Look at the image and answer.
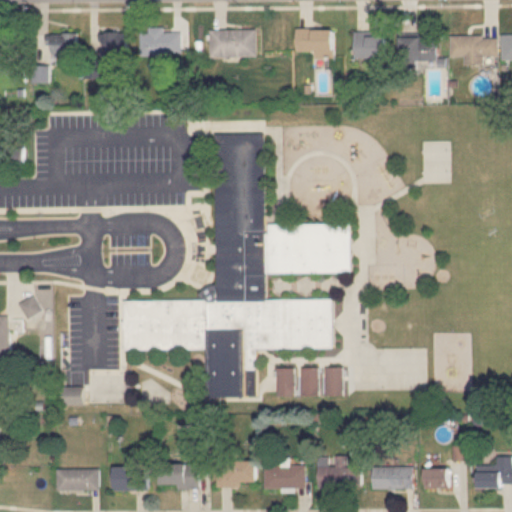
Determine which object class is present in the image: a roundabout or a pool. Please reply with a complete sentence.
There is a pool in the scene.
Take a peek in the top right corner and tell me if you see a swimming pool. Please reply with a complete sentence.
Yes, there is a swimming pool in the top right corner.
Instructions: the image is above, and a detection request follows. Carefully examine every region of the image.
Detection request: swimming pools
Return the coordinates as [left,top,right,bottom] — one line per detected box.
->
[426,68,447,104]
[315,70,332,97]
[471,74,493,96]
[434,424,454,444]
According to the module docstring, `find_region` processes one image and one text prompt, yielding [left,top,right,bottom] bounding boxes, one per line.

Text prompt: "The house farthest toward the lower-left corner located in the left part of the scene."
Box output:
[56,470,101,496]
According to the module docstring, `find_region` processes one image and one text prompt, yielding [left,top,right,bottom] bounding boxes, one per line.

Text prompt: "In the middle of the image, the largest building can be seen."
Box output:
[124,133,352,398]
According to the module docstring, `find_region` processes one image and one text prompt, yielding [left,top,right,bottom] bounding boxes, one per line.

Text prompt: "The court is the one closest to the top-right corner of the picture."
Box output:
[424,142,452,184]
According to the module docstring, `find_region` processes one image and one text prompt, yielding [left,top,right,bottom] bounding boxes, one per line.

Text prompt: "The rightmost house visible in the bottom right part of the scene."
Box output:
[474,457,512,490]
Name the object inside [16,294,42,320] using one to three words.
building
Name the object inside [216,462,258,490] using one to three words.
house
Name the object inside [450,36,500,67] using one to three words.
house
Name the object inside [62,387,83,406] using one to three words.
building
